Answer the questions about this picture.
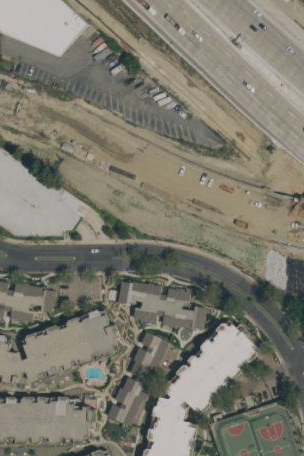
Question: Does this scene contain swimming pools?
Yes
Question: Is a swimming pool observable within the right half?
No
